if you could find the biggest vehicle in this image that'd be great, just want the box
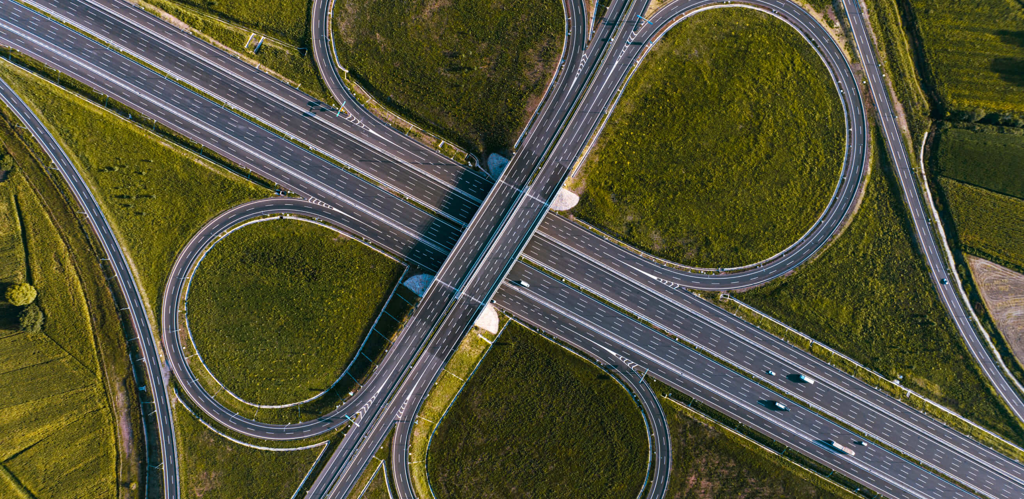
[832,442,857,457]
